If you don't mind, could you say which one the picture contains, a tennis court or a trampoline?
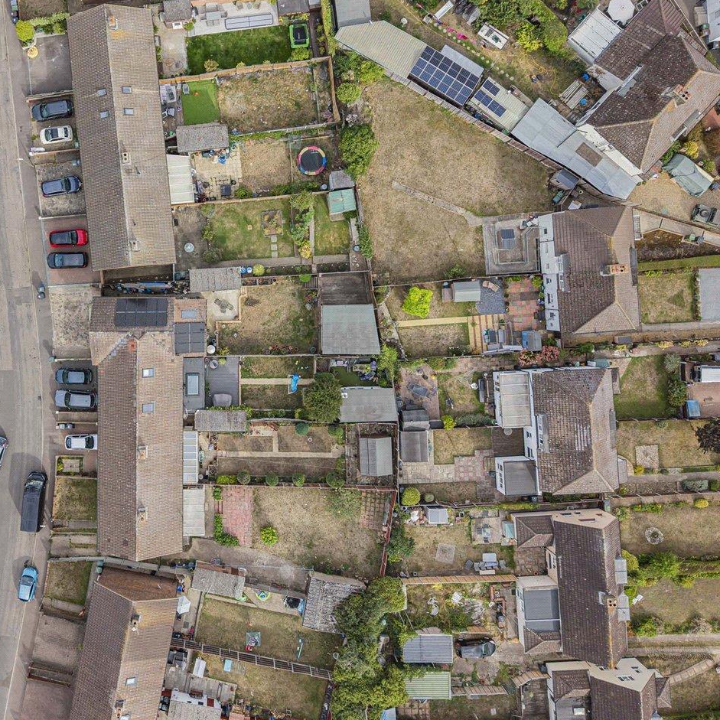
trampoline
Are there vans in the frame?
Yes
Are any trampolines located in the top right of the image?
No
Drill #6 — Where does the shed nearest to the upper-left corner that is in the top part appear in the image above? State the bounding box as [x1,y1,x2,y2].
[164,0,193,26]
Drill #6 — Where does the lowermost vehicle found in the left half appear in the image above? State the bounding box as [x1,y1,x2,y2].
[17,565,39,604]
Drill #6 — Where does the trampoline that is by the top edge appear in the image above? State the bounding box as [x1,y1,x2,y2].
[291,20,310,47]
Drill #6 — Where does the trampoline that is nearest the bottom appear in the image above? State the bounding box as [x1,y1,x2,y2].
[297,145,328,175]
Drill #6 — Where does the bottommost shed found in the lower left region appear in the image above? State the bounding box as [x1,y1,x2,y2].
[167,683,221,720]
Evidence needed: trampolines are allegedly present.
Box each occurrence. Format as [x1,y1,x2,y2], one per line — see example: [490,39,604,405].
[297,145,328,175]
[291,20,310,47]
